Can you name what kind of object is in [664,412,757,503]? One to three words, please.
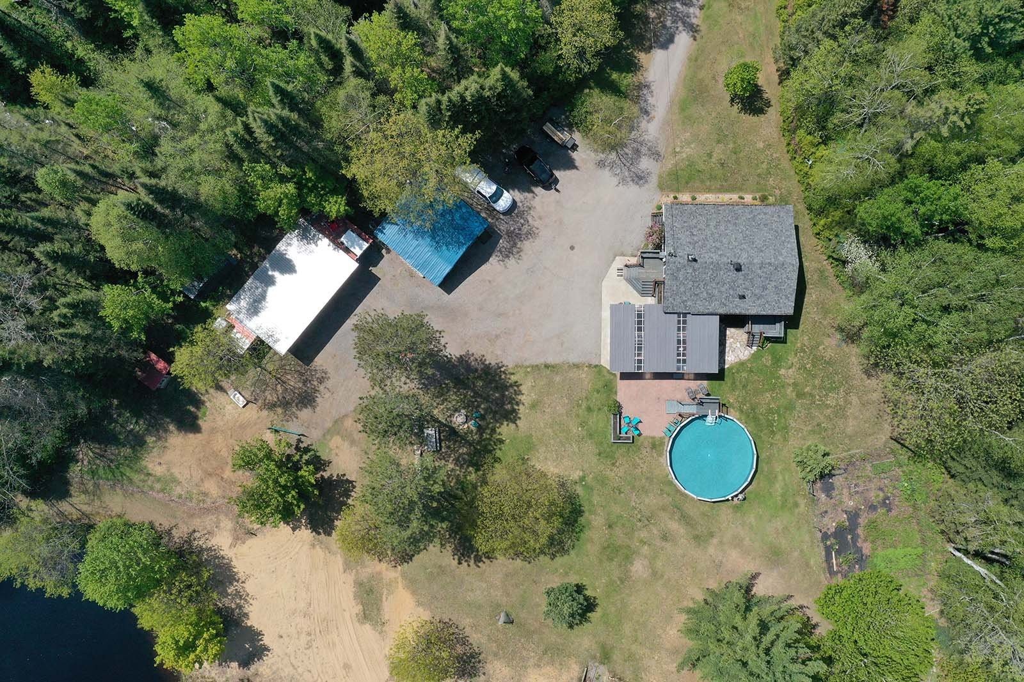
swimming pool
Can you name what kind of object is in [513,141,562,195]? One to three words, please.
car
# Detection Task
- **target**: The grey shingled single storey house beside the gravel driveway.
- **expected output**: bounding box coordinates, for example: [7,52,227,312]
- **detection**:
[661,203,799,316]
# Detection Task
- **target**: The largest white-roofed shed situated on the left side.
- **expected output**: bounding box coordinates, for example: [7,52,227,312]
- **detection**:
[230,219,361,356]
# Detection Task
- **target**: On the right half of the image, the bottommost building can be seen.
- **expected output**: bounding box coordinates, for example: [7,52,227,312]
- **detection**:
[608,304,719,373]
